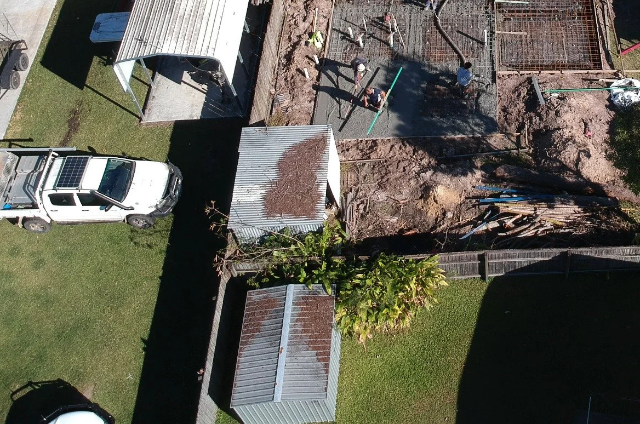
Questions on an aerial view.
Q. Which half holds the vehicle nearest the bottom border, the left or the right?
left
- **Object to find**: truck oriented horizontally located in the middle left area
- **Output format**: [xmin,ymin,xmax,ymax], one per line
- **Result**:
[0,144,187,236]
